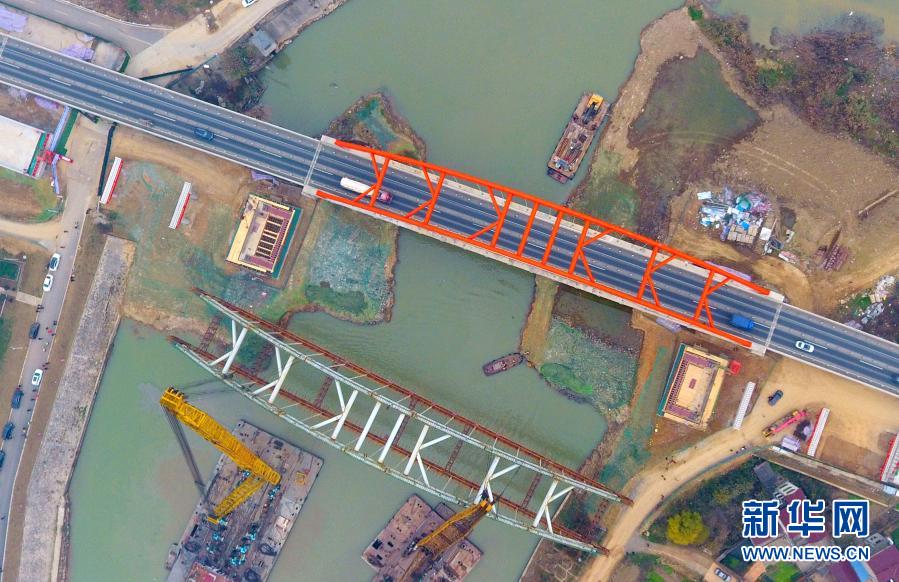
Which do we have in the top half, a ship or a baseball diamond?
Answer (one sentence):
Visible in the top half is a ship.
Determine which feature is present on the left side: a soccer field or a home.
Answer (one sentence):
It is a home that can be seen on the left side.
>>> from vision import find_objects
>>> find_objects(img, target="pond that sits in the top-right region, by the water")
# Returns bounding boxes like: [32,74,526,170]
[629,47,760,147]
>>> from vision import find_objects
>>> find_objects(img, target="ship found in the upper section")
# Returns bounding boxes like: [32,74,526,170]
[547,91,609,187]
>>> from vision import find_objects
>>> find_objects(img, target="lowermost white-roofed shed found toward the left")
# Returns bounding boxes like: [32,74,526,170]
[169,182,194,230]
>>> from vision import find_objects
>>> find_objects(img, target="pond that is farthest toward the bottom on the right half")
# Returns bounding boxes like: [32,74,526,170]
[553,284,645,347]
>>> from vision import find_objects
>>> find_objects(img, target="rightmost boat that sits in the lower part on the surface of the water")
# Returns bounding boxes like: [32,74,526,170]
[483,353,521,376]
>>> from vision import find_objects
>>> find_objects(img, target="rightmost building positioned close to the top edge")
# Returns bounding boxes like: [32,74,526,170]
[251,29,278,58]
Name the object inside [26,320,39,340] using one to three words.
vehicle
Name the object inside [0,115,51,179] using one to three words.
building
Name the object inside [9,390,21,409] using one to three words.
vehicle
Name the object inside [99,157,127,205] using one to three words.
shed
